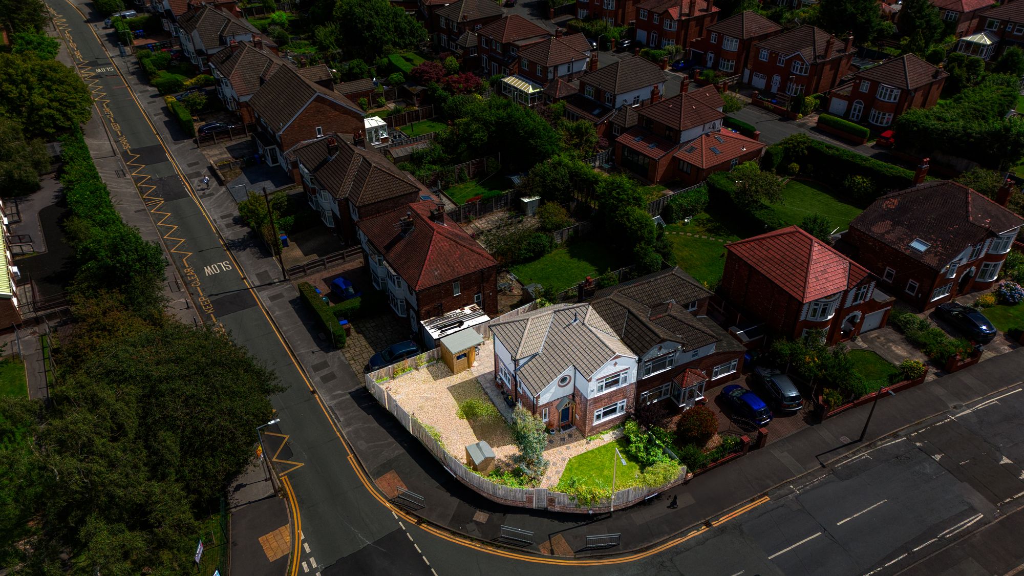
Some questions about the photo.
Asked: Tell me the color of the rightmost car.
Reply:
black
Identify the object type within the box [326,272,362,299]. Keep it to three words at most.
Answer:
car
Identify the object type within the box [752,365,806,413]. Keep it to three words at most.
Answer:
car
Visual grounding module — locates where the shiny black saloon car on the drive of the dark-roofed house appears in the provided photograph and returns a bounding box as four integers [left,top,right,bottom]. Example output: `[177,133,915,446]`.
[939,306,998,343]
